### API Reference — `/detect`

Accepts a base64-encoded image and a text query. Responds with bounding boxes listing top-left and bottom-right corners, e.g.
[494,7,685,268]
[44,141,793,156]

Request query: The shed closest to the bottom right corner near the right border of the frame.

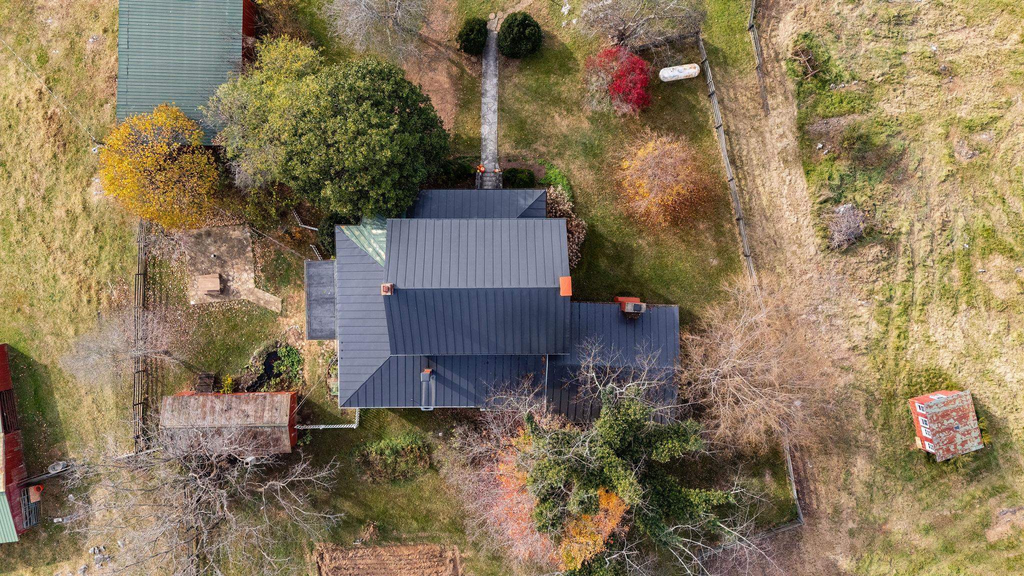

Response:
[905,389,984,461]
